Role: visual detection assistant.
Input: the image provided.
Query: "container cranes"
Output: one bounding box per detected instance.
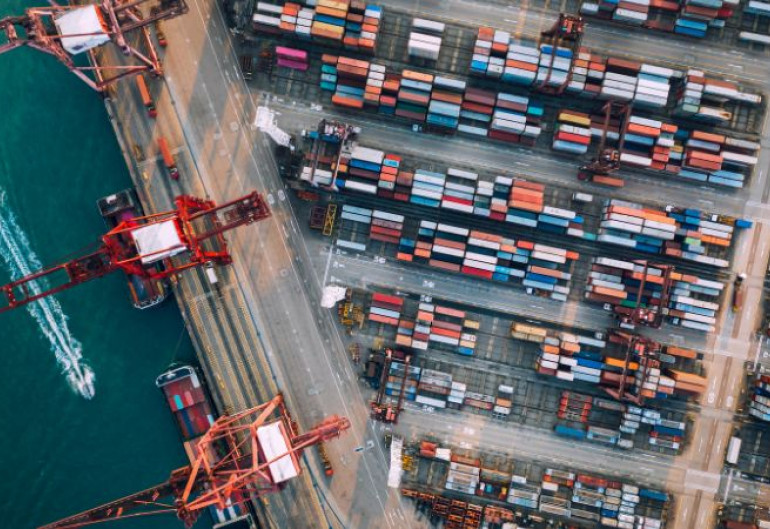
[309,117,356,198]
[527,18,584,110]
[605,258,675,331]
[0,189,274,319]
[40,385,354,529]
[371,338,414,421]
[587,324,656,406]
[570,100,637,185]
[0,0,193,103]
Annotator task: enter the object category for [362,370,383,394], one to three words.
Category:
work vehicle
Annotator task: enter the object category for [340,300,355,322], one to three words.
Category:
work vehicle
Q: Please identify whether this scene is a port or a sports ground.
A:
port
